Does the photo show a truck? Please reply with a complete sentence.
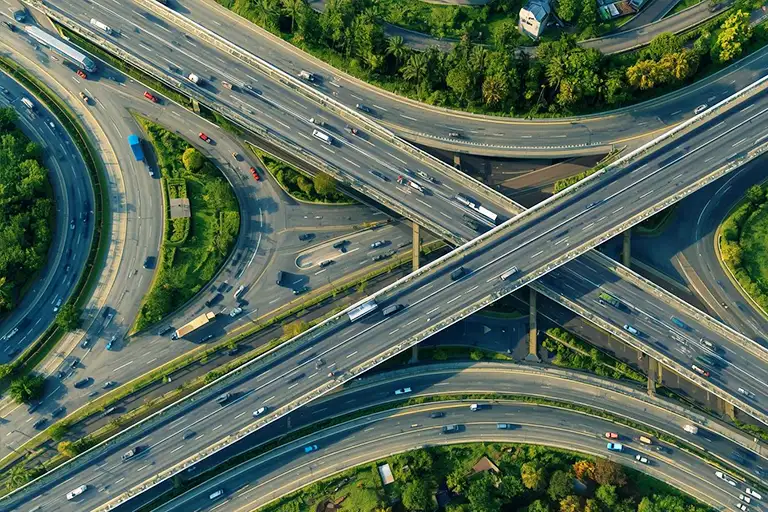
Yes, there is a truck in the image.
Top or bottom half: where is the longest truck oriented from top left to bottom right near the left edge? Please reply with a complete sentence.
The longest truck oriented from top left to bottom right near the left edge sits in the top half of the picture.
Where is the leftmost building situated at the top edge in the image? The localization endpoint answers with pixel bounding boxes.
[518,0,557,40]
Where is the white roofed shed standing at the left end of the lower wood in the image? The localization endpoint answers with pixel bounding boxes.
[379,463,398,489]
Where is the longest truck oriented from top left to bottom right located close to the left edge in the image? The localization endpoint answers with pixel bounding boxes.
[27,24,94,73]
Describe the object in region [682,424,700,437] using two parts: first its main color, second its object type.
white vehicle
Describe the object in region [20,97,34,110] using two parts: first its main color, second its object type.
white vehicle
